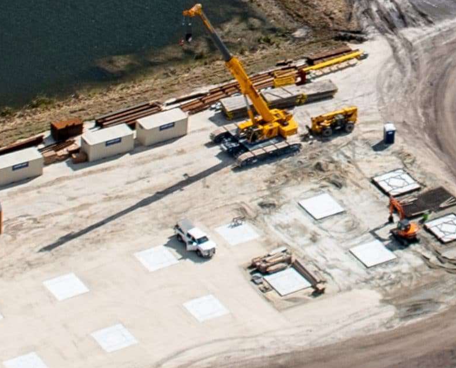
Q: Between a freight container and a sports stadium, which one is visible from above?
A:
freight container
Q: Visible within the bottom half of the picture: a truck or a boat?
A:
truck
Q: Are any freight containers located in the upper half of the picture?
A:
Yes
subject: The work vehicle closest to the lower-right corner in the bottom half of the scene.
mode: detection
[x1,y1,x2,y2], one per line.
[389,198,421,243]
